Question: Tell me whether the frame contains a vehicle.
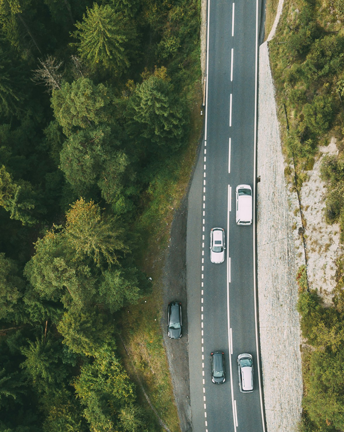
Yes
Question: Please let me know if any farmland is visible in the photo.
No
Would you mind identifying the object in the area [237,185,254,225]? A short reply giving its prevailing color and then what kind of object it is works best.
white vehicle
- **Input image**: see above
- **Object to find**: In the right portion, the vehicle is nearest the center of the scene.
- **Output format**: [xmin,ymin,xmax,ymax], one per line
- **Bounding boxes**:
[209,227,226,263]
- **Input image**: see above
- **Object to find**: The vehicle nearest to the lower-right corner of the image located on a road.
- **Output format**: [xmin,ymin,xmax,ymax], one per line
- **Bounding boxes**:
[210,351,226,383]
